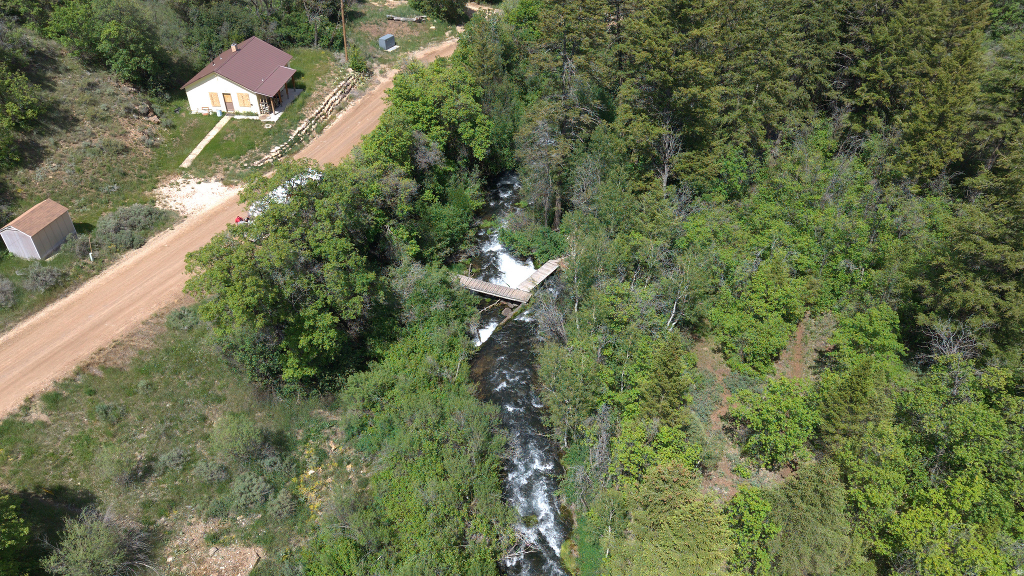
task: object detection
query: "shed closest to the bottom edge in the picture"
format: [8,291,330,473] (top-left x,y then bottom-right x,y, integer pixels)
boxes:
[0,198,75,262]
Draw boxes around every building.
[0,198,75,262]
[180,37,304,123]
